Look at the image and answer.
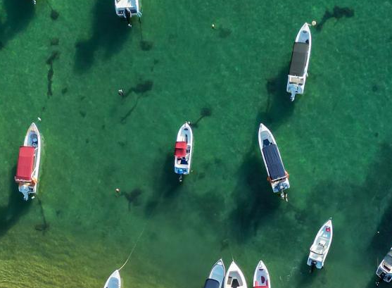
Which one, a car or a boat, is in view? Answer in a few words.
boat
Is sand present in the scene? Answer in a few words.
Yes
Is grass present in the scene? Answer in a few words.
No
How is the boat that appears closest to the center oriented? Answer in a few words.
up and down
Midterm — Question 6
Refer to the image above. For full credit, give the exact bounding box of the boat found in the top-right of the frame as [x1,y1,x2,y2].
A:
[287,21,311,104]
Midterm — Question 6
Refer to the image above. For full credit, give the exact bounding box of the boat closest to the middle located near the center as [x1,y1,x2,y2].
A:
[173,122,193,185]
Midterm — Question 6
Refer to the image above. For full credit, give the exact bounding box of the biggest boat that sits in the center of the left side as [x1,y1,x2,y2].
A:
[16,122,41,203]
